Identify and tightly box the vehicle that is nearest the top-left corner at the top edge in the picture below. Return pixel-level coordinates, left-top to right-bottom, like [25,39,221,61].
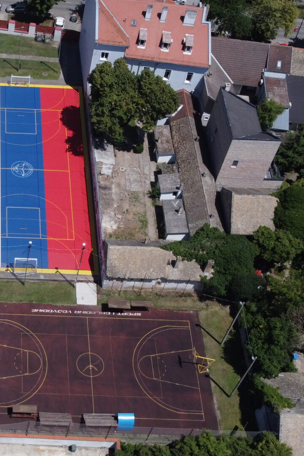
[8,3,33,16]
